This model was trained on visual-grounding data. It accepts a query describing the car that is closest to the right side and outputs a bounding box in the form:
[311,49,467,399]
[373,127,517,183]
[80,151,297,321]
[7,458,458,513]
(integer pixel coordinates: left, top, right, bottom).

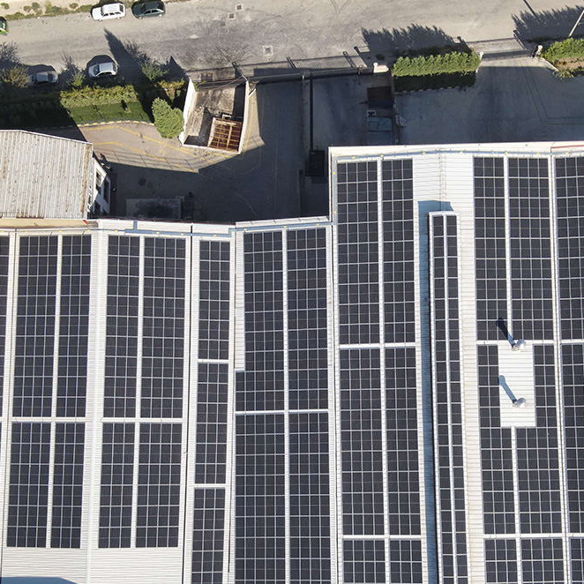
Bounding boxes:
[134,0,166,19]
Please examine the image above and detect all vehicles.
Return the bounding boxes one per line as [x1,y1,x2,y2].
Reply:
[28,69,60,88]
[92,3,126,21]
[134,0,166,19]
[0,18,10,36]
[88,59,119,78]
